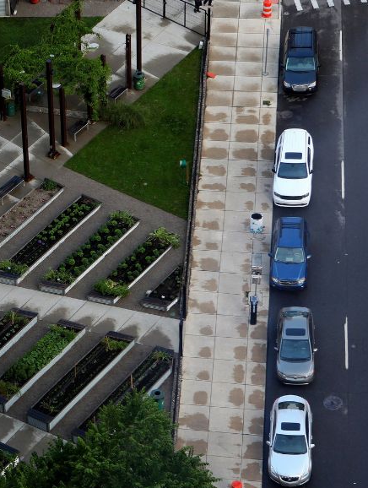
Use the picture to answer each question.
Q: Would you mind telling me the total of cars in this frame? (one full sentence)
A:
I count 5 cars.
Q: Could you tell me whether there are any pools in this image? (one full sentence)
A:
No, no pool is visible in the view.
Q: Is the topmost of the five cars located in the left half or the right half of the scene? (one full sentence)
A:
It is on the right.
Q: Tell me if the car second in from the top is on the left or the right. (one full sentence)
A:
The car second in from the top is on the right side of the image.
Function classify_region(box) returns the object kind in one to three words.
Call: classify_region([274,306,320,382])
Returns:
car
